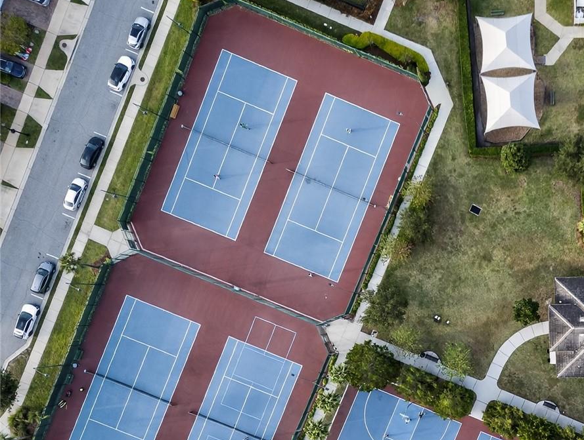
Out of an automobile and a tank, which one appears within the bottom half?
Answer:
automobile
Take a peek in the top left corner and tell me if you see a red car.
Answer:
No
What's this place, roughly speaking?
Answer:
sports ground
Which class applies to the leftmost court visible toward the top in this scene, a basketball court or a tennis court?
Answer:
tennis court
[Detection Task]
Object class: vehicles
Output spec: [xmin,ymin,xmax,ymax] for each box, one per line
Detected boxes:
[108,56,135,92]
[30,261,57,295]
[125,16,152,50]
[0,57,30,80]
[13,304,41,338]
[79,136,106,170]
[64,177,90,211]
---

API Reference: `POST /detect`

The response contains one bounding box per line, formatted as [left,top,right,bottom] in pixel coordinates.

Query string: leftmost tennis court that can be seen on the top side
[131,4,328,286]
